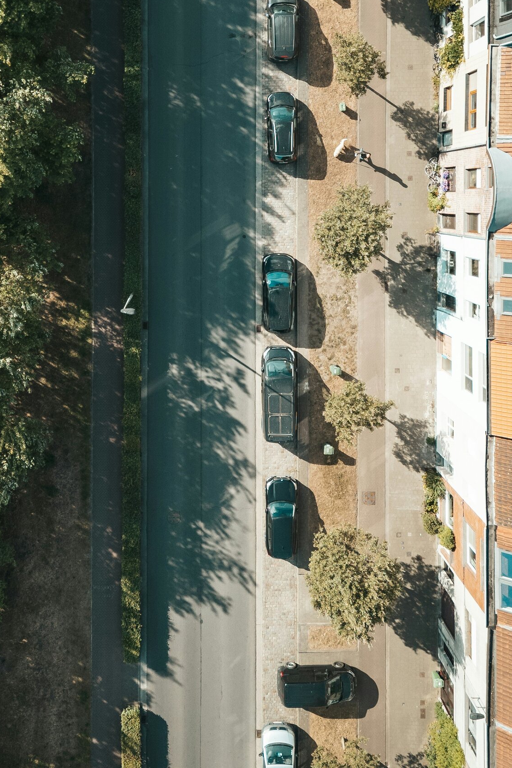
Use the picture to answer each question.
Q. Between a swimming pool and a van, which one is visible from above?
van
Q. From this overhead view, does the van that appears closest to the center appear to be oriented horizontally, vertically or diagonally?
vertically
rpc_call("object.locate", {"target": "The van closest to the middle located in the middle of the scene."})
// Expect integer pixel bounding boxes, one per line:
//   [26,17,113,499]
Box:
[259,345,300,441]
